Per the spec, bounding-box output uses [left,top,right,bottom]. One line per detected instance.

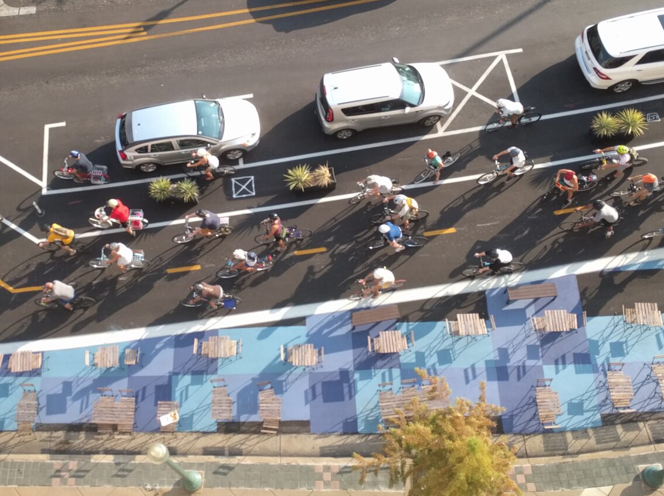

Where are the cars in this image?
[312,53,455,140]
[574,7,664,93]
[109,90,259,173]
